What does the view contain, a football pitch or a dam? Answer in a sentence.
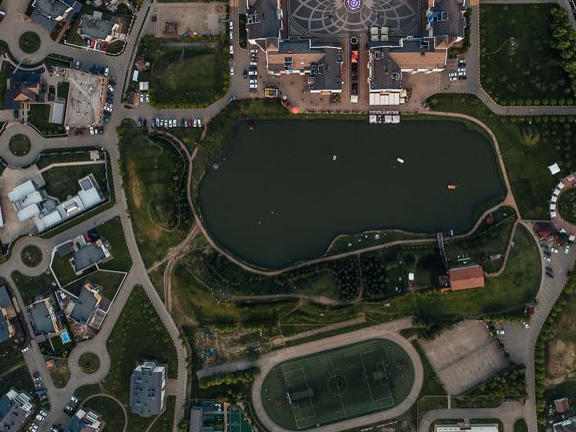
The one in the frame is a football pitch.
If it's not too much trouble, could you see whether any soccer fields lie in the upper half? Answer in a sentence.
No, looking in the upper half, there is no soccer field.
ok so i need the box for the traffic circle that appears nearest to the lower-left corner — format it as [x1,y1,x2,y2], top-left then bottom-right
[69,342,109,383]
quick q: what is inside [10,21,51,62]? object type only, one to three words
roundabout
